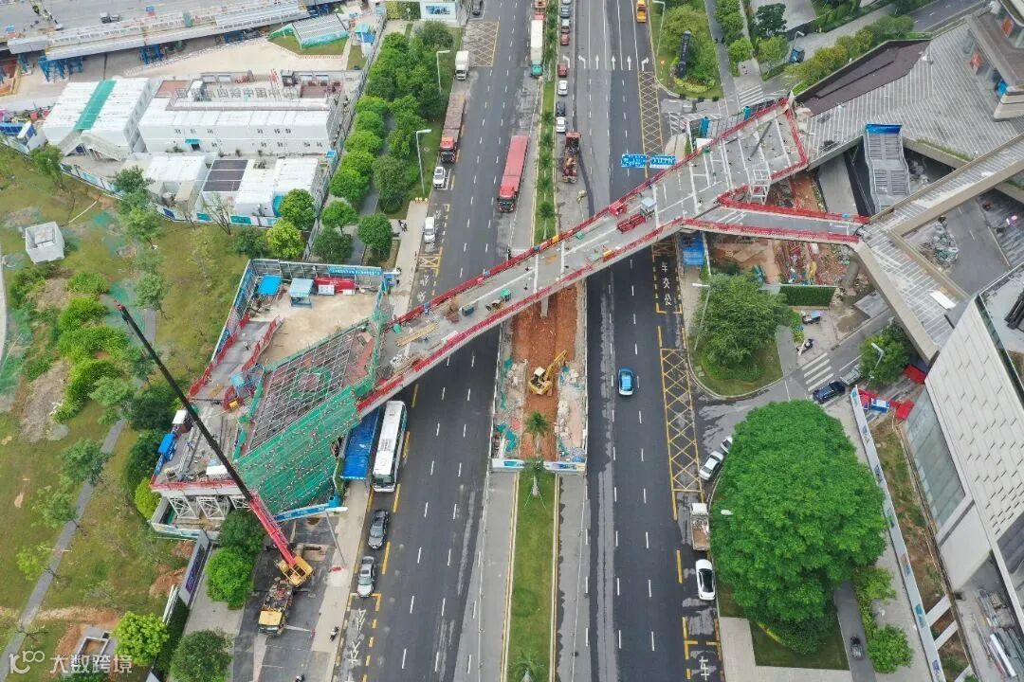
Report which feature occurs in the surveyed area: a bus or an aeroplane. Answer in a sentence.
This aerial view contains a bus.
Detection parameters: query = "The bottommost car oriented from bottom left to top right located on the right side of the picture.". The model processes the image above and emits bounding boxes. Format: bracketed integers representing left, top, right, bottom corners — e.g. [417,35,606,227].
[696,448,726,482]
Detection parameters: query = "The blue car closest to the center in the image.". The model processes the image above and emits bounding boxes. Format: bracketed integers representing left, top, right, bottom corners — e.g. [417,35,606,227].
[617,370,634,397]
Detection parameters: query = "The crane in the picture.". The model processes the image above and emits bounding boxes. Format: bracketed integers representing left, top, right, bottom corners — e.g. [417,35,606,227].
[116,302,334,655]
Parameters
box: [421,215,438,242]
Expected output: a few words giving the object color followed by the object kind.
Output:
white car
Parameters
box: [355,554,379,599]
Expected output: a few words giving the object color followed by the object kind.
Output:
gray car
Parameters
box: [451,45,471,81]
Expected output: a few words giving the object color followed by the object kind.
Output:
white vehicle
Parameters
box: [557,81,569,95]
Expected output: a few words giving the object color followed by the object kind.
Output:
white vehicle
